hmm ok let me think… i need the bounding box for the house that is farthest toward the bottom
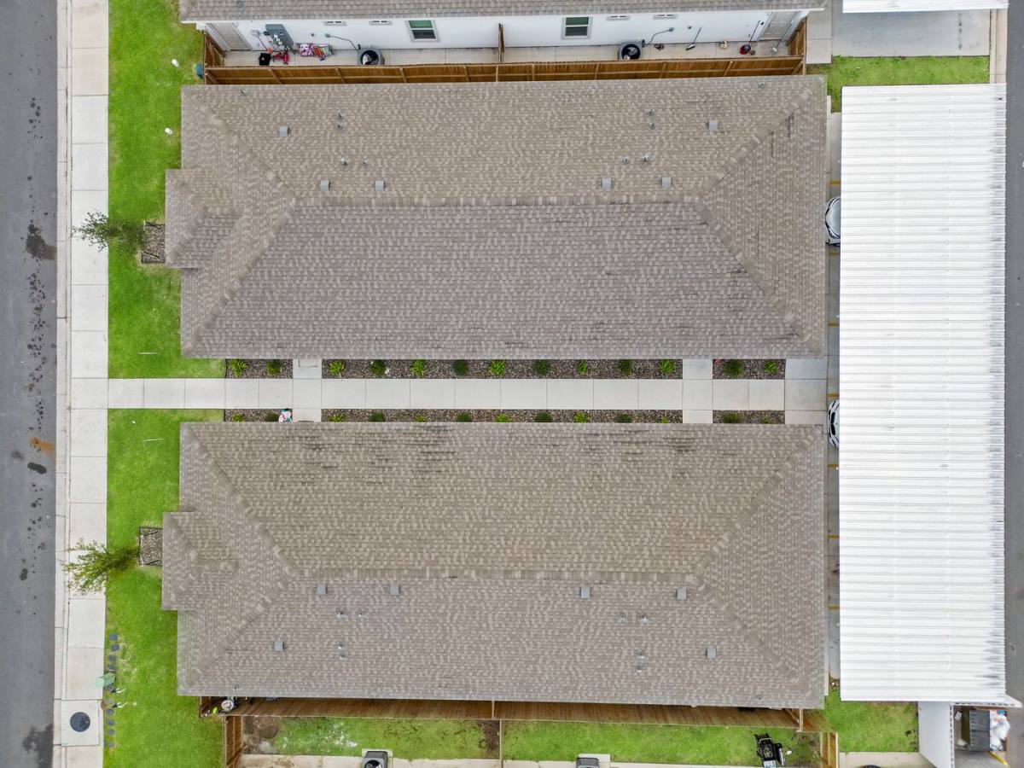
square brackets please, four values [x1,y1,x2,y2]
[162,422,823,708]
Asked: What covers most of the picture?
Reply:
buildings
